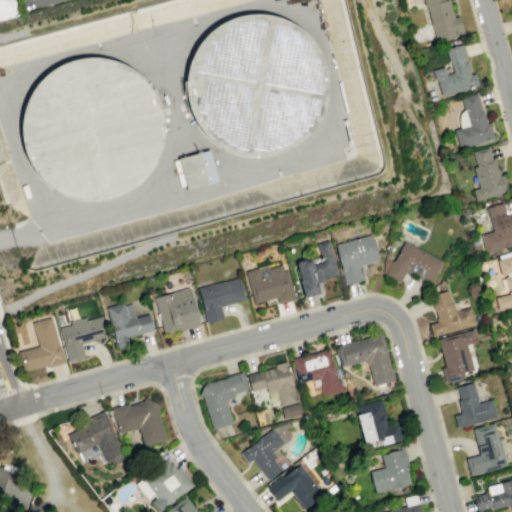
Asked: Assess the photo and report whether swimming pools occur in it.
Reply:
Yes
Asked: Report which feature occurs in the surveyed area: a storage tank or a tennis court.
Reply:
storage tank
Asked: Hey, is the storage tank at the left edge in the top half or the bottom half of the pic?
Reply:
top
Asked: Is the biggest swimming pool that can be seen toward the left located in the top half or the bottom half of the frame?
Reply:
bottom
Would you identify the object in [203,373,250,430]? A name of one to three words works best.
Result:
house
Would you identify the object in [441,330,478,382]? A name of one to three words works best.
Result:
house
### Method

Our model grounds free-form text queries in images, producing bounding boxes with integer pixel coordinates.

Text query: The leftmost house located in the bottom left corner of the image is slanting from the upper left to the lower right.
[0,470,34,511]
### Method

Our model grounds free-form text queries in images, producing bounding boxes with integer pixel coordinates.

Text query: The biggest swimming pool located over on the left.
[118,482,138,504]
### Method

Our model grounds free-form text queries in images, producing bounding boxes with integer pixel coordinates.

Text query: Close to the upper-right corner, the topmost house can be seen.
[428,0,465,42]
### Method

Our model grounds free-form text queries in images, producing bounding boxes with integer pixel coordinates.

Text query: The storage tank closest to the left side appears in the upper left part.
[24,58,167,201]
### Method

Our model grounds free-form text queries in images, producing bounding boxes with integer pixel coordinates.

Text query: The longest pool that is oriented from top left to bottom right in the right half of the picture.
[406,220,430,241]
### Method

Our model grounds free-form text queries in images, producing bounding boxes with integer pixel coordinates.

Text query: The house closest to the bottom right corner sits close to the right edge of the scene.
[474,480,512,512]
